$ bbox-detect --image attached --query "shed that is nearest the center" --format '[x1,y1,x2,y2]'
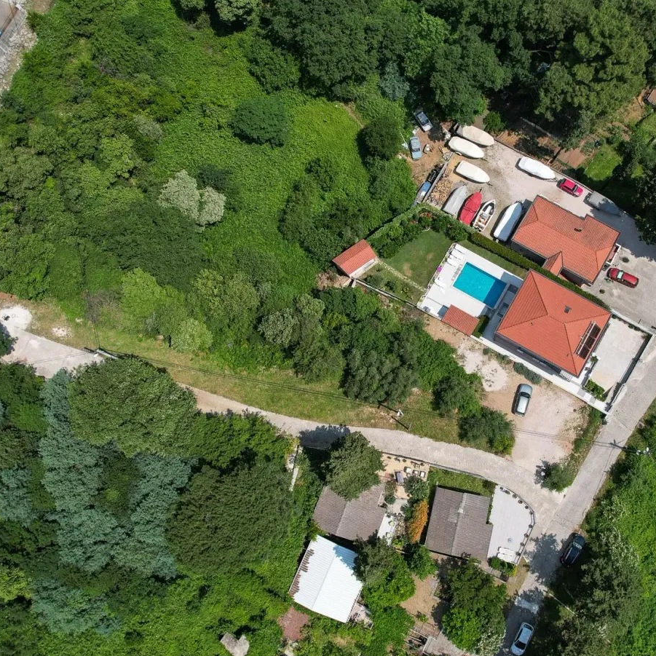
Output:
[337,240,377,279]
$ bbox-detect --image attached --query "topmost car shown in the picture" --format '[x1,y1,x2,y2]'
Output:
[413,110,432,133]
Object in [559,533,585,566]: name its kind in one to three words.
car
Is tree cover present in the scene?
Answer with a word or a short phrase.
Yes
